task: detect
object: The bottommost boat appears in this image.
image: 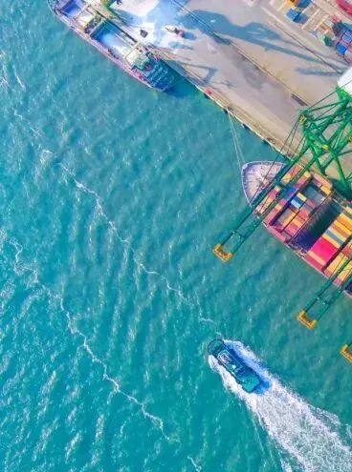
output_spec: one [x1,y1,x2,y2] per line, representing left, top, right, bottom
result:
[207,341,260,389]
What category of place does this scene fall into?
port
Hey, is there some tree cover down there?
No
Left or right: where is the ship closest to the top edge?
left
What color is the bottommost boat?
blue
